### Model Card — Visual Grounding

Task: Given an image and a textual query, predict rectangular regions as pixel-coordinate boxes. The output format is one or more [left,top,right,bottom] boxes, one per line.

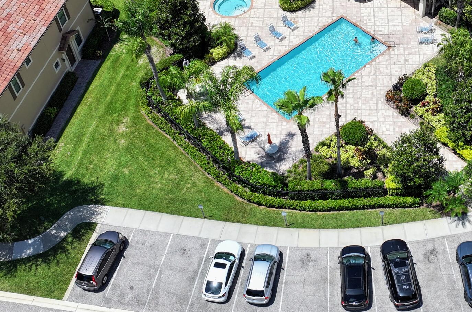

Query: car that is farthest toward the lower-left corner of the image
[73,229,127,294]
